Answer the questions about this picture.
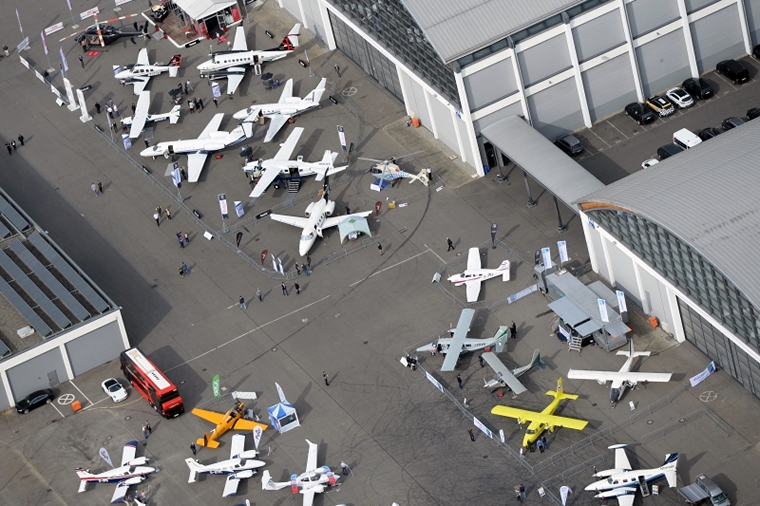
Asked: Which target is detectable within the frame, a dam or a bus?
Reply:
bus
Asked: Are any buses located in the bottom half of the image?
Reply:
Yes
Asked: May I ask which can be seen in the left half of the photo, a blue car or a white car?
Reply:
white car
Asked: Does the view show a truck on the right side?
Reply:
Yes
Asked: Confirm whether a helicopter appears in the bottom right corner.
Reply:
No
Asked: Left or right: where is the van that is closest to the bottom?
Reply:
right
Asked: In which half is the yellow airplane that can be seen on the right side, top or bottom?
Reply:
bottom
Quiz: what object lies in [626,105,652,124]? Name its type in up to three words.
car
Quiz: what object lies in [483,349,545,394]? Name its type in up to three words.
airplane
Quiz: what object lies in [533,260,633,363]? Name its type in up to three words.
truck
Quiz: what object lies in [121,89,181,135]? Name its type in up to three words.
airplane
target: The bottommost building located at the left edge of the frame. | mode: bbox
[0,183,134,410]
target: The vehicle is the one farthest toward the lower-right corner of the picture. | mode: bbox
[680,473,733,506]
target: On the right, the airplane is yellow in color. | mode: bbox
[491,384,589,450]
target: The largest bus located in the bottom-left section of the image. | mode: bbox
[120,349,182,420]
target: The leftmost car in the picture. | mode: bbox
[14,390,56,415]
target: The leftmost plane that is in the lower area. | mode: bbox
[82,443,159,505]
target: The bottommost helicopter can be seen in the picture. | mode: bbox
[346,144,434,191]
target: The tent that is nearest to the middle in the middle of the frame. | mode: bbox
[335,216,373,247]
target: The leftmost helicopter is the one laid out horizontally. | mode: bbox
[56,16,145,59]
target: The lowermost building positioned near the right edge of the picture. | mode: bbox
[570,116,760,406]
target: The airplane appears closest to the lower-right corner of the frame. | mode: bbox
[586,444,681,506]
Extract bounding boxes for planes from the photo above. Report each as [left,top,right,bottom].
[569,344,675,413]
[198,22,300,93]
[261,444,340,506]
[140,113,252,185]
[483,349,545,394]
[586,444,681,506]
[188,437,266,499]
[270,171,376,257]
[82,443,159,505]
[117,50,182,96]
[121,89,181,135]
[241,125,341,195]
[189,398,269,453]
[235,76,330,142]
[491,384,589,450]
[418,309,504,369]
[447,249,509,300]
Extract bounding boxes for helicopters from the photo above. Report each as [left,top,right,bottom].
[346,144,434,191]
[56,16,145,59]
